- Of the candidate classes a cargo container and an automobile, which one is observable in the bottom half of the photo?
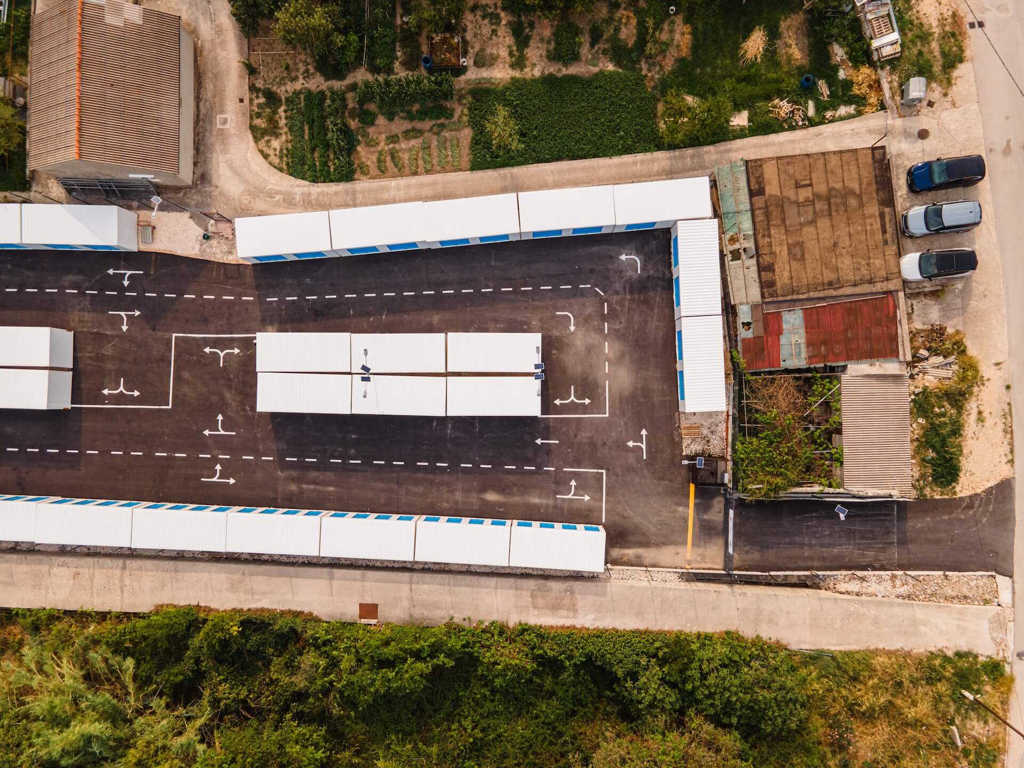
cargo container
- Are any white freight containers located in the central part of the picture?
Yes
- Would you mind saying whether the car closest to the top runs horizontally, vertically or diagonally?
horizontally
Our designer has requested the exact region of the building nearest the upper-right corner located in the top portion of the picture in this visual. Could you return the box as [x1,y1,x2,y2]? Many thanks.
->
[742,145,904,303]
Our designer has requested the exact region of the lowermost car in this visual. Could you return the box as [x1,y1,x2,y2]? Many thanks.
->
[900,247,979,282]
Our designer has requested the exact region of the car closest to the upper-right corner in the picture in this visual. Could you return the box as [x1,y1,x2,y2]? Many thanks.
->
[904,156,987,193]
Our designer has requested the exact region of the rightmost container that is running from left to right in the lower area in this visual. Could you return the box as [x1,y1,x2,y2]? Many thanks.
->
[510,520,606,570]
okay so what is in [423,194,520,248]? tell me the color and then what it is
white shipping container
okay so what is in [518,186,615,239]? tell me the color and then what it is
white shipping container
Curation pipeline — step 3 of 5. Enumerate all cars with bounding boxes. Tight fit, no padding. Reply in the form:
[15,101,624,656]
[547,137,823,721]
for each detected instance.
[900,247,979,282]
[904,156,987,193]
[899,201,983,237]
